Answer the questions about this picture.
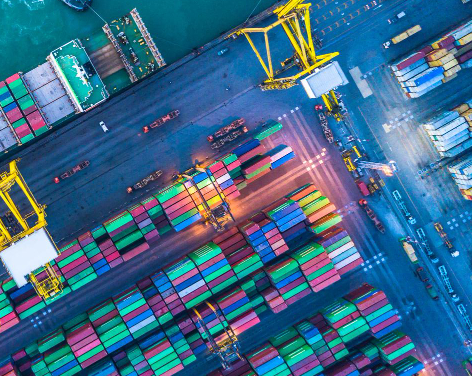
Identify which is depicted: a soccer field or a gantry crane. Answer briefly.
gantry crane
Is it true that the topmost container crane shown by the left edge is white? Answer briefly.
Yes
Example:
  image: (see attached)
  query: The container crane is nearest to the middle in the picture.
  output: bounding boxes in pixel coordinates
[180,157,243,230]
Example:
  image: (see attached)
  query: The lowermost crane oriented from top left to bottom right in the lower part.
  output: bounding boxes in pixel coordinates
[189,296,245,367]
